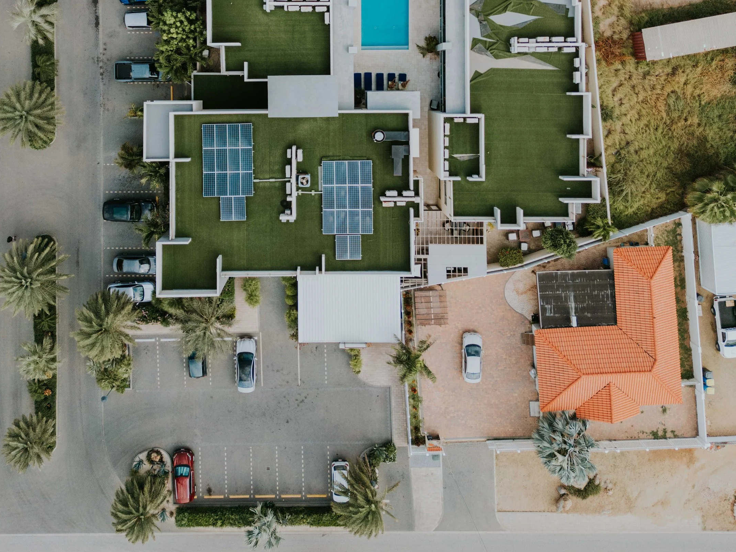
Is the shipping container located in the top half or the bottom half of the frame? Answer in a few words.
top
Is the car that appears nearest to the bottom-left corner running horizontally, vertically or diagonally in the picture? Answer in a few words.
vertically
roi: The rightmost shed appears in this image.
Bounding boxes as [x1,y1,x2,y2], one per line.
[696,215,736,295]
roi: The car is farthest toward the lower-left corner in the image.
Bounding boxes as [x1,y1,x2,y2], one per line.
[170,447,196,503]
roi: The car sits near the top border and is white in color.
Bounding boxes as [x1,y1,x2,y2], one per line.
[126,10,149,30]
